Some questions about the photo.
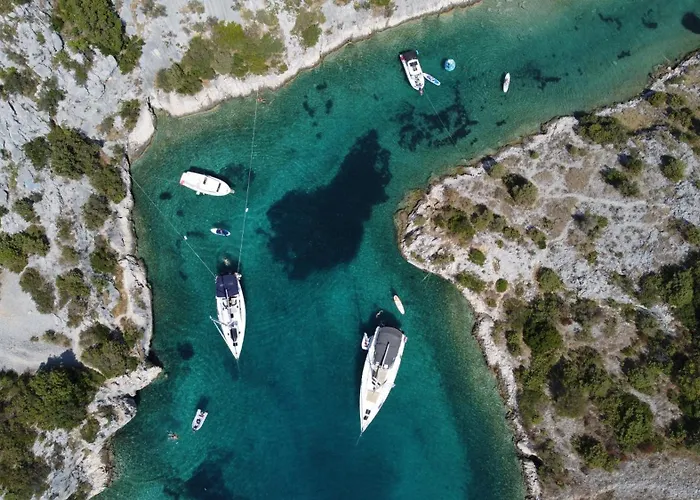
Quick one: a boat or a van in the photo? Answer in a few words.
boat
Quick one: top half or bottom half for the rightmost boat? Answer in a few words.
top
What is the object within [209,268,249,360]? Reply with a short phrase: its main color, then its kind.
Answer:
white boat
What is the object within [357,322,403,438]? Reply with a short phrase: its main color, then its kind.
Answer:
white boat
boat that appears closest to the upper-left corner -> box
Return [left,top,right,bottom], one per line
[177,171,237,198]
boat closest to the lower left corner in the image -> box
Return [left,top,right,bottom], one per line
[191,406,208,431]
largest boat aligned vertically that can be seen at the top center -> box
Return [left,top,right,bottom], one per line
[400,46,426,95]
